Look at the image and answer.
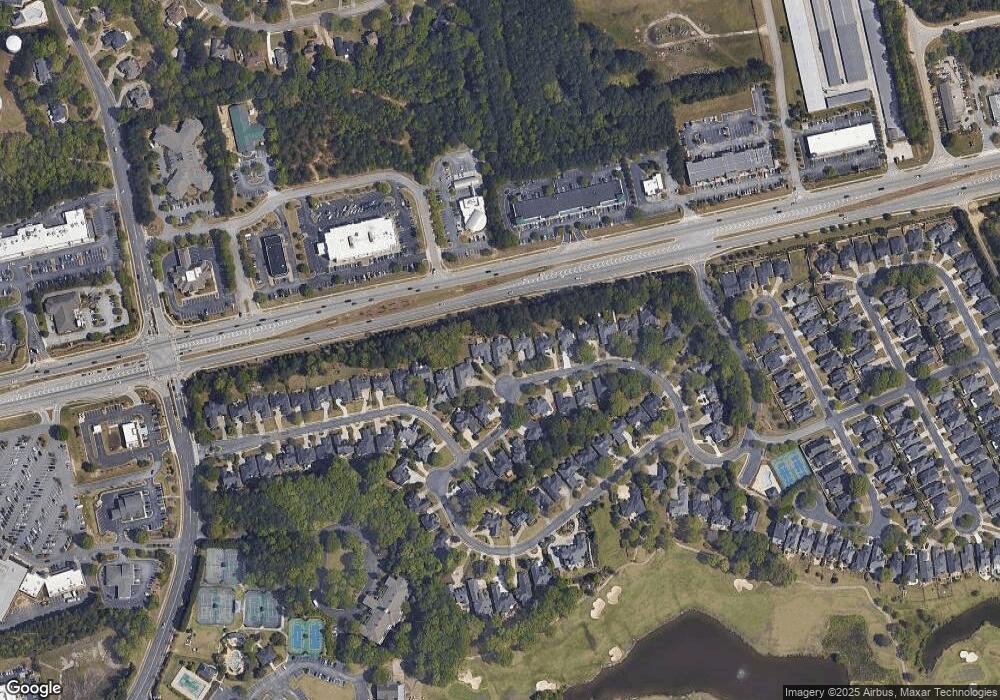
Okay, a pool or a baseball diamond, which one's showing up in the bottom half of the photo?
pool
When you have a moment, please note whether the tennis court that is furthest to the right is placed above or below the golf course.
above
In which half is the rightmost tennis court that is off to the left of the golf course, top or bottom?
bottom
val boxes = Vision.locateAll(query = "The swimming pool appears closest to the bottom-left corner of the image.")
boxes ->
[171,667,211,700]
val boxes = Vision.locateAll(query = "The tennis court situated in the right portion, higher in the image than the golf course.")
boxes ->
[771,449,812,488]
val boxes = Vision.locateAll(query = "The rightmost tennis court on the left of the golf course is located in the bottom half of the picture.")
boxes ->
[288,618,325,655]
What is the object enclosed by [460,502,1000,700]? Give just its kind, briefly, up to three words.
golf course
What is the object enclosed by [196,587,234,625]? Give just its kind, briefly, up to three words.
tennis court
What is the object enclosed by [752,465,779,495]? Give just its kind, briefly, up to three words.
swimming pool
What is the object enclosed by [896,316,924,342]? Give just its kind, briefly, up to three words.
house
